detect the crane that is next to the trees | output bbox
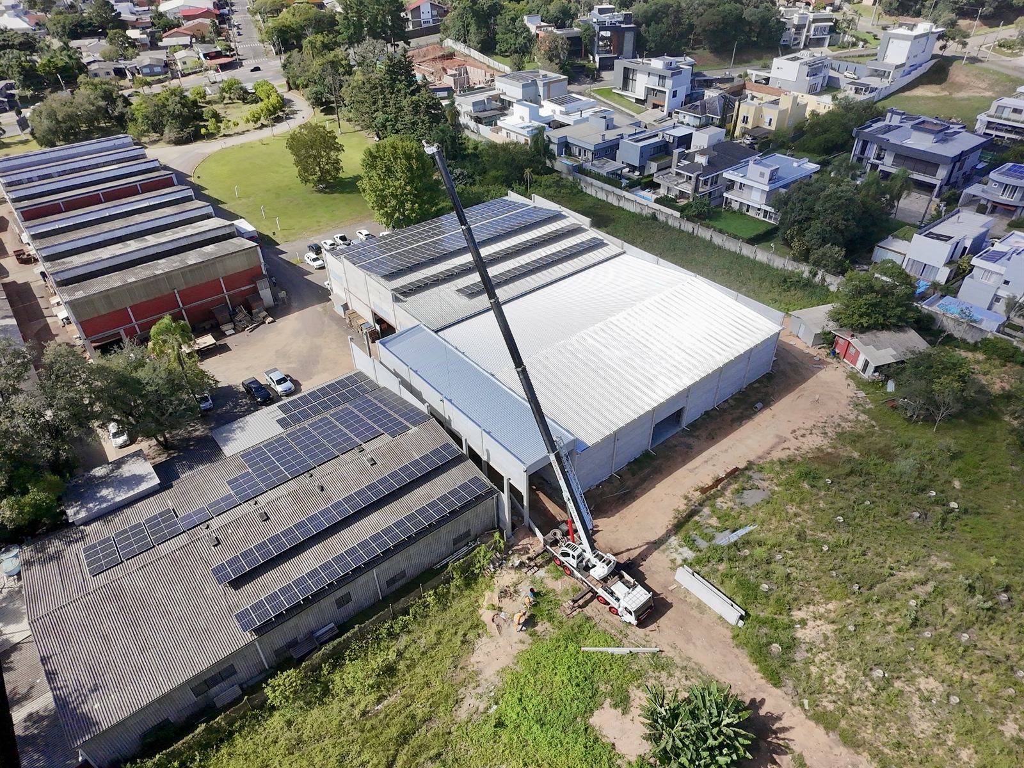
[414,142,653,630]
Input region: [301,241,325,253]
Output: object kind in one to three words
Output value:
vehicle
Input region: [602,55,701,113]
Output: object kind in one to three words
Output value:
house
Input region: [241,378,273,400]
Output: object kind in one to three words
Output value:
truck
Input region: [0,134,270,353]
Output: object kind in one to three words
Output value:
building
